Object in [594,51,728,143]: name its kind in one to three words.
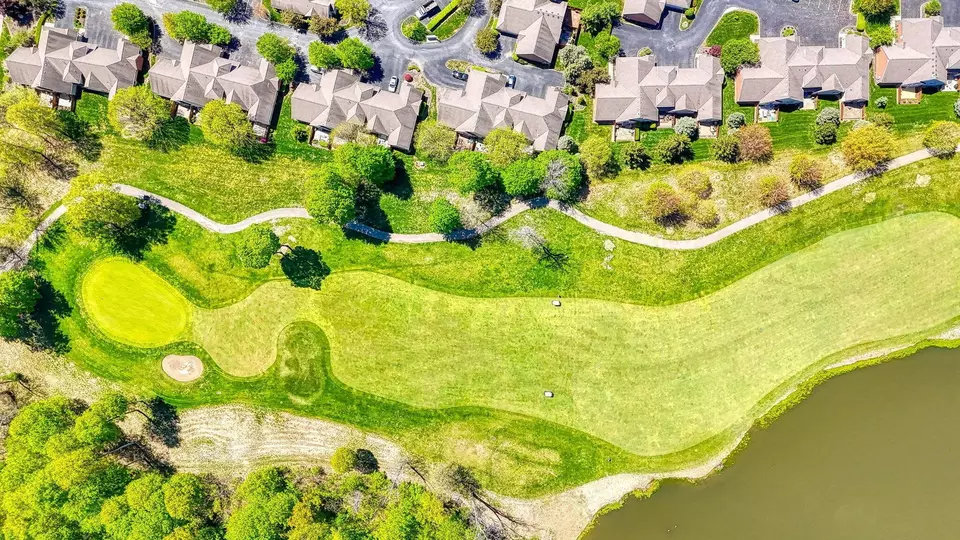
house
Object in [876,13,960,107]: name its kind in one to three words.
house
